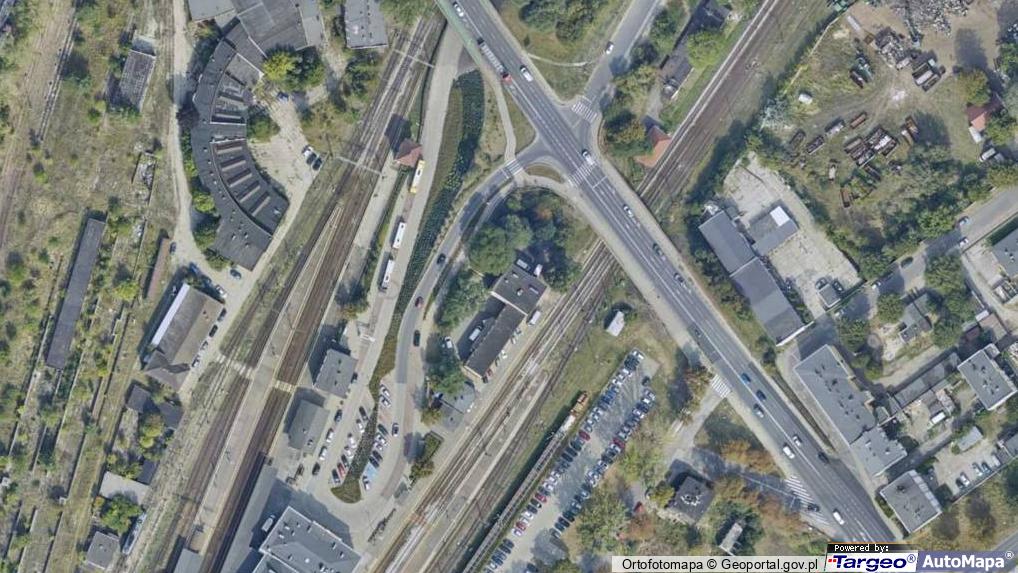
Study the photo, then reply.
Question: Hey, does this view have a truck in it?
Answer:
Yes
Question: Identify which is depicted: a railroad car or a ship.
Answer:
railroad car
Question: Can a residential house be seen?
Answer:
Yes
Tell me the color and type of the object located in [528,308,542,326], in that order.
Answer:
white vehicle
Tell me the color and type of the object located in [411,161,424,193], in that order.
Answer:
white vehicle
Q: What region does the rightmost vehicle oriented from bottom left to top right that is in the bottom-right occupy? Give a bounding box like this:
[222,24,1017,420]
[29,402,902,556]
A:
[930,411,947,425]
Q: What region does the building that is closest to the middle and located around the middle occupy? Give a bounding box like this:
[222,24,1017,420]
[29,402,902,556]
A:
[492,264,547,315]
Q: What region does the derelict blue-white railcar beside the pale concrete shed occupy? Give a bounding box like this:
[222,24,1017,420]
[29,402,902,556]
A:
[122,512,149,555]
